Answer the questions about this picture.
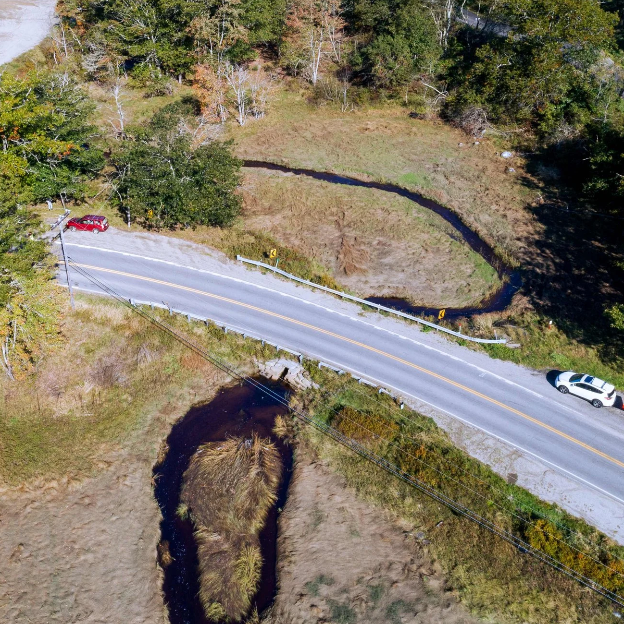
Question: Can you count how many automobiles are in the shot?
2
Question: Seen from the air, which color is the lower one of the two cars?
white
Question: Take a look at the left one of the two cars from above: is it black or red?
red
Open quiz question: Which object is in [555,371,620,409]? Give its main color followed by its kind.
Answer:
white car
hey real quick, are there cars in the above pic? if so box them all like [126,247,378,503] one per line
[65,213,110,235]
[555,371,620,409]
